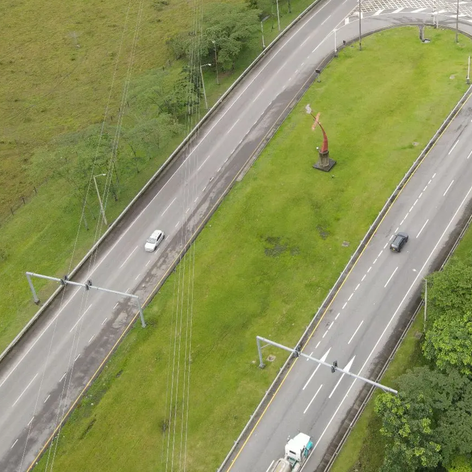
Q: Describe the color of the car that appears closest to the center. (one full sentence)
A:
The car that appears closest to the center looks white in the image.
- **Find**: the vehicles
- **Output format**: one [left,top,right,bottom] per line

[141,226,166,252]
[387,231,409,254]
[271,430,315,472]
